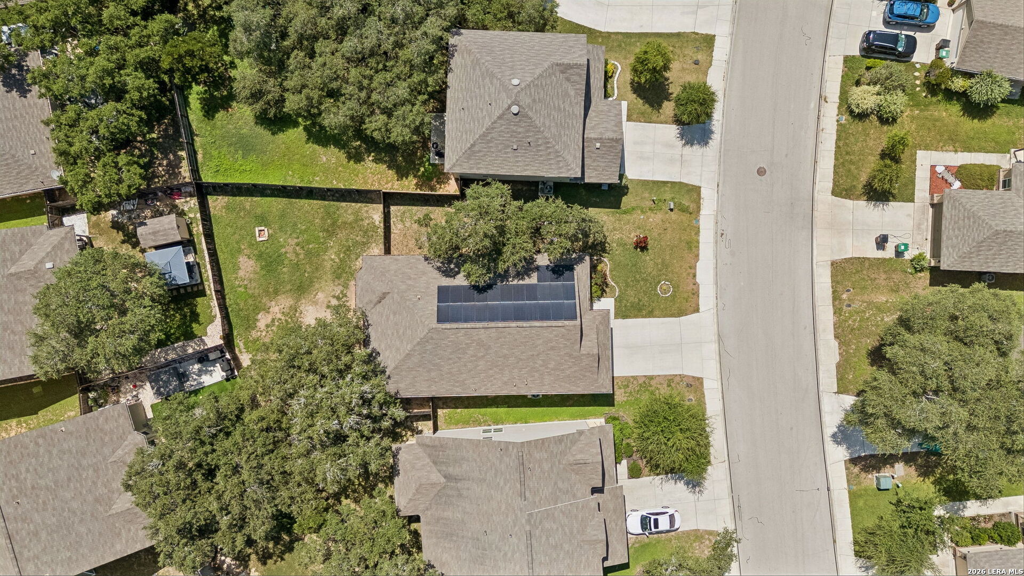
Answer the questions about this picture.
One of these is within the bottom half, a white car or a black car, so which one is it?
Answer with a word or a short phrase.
white car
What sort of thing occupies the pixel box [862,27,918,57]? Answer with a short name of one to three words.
car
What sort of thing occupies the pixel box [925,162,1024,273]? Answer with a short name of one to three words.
house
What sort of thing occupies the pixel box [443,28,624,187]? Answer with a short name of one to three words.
house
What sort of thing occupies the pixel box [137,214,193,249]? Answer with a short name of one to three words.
shed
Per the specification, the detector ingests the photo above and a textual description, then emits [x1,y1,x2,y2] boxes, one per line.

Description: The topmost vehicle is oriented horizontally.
[886,0,940,26]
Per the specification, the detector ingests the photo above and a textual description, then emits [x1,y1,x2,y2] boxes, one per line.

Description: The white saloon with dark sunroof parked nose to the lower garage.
[625,506,680,536]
